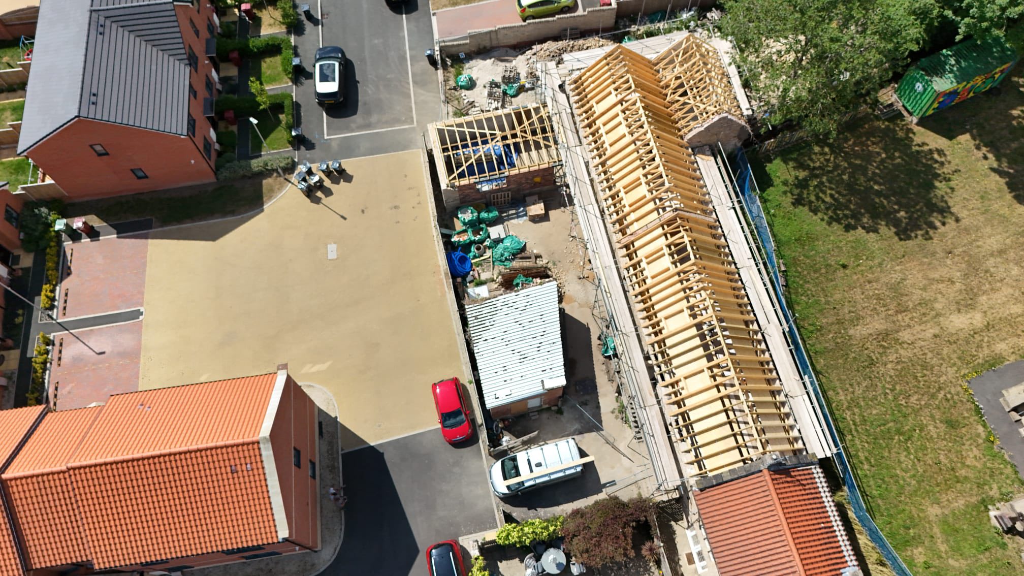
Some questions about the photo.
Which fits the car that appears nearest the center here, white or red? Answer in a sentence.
The color of the car that appears nearest the center is red.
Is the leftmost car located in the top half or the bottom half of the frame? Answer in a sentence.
The leftmost car sits in the top half of the picture.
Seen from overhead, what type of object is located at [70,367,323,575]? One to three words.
house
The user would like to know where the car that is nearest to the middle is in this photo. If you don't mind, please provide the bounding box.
[429,374,474,449]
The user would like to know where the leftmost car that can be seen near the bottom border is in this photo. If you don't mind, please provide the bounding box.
[428,537,469,576]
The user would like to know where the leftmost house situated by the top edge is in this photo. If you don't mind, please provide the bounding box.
[13,0,224,201]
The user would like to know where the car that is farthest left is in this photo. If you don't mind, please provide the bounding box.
[313,51,348,104]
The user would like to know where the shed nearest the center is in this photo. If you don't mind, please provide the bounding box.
[466,282,566,415]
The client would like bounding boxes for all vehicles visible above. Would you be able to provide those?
[313,51,348,104]
[429,374,474,449]
[518,0,571,17]
[490,446,591,504]
[428,537,469,576]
